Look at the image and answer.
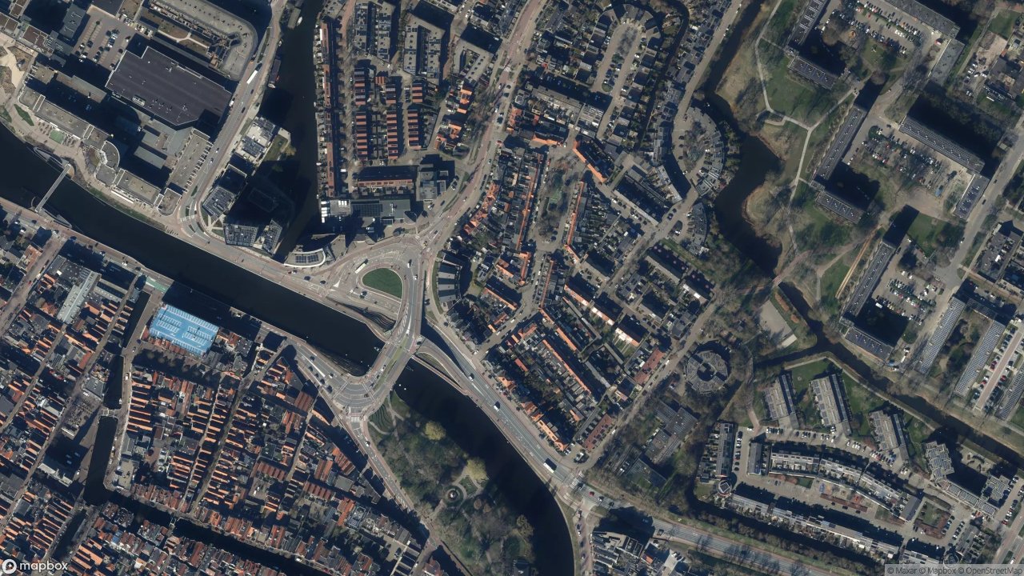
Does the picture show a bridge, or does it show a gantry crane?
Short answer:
bridge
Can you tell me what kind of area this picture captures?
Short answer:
residential area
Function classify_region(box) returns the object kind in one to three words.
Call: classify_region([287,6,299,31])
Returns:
boat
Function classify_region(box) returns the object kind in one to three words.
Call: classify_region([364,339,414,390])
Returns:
bridge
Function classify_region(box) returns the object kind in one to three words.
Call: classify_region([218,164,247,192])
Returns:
building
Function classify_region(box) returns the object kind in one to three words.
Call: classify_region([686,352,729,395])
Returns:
house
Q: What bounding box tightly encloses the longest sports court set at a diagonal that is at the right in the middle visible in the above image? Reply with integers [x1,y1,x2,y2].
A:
[759,300,797,346]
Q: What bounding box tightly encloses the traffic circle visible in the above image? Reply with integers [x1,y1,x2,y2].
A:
[357,264,407,301]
